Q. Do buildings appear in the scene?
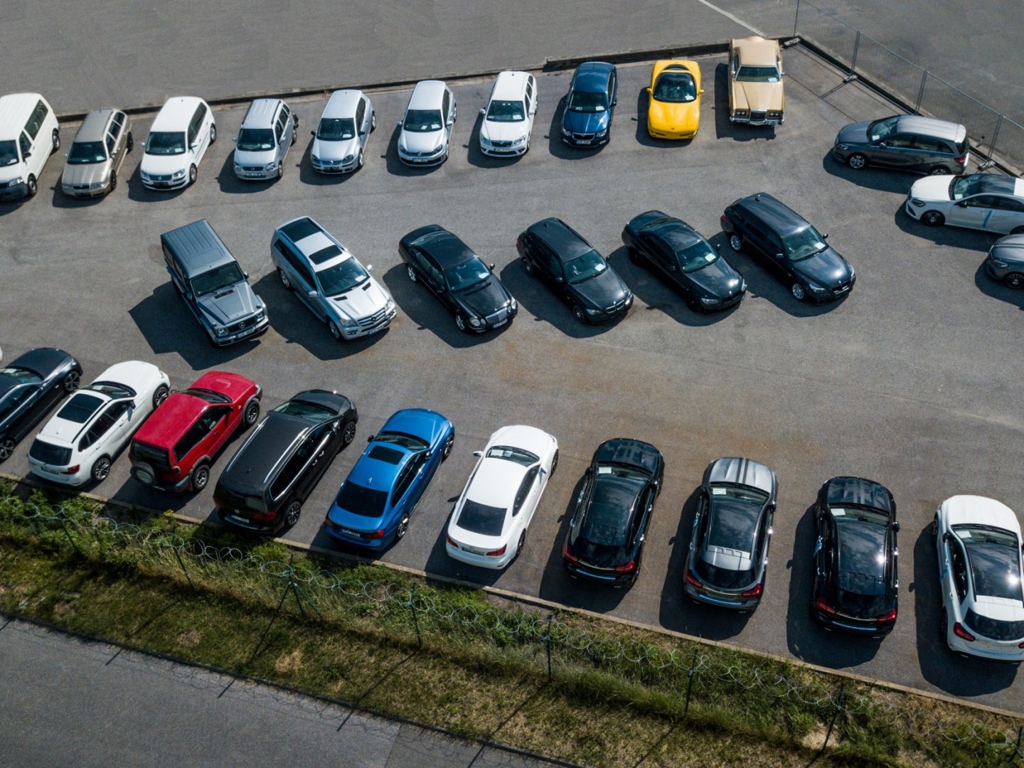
No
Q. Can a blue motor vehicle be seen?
Yes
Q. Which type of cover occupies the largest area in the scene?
paved ground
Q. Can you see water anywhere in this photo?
No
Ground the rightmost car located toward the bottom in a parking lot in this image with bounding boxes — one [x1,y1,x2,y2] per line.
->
[936,498,1024,660]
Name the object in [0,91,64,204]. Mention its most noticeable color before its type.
white van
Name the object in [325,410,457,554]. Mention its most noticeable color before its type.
blue car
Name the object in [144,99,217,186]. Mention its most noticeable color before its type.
white car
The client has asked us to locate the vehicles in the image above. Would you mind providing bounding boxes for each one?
[398,79,458,164]
[127,372,270,500]
[396,225,517,335]
[983,236,1024,290]
[903,173,1024,236]
[561,62,619,146]
[60,97,137,197]
[725,36,789,126]
[446,424,563,571]
[0,345,85,462]
[233,99,301,182]
[267,217,395,344]
[480,68,540,156]
[685,459,780,610]
[512,216,632,326]
[25,362,172,491]
[936,498,1024,660]
[311,89,377,174]
[717,191,853,303]
[158,218,275,354]
[562,438,659,584]
[0,91,64,204]
[144,99,217,186]
[617,209,747,317]
[645,63,707,139]
[834,116,964,178]
[210,389,361,541]
[325,410,457,554]
[811,479,903,635]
